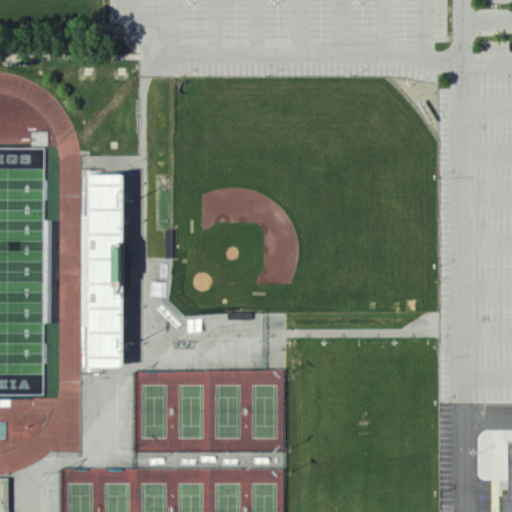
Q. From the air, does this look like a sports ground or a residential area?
sports ground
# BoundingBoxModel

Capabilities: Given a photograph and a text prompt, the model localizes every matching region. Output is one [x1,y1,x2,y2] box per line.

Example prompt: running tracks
[0,73,81,474]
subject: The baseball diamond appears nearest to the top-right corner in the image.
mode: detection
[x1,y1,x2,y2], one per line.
[172,78,438,316]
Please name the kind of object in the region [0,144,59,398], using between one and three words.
sports field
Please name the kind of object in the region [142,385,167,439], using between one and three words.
tennis court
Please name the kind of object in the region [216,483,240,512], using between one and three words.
tennis court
